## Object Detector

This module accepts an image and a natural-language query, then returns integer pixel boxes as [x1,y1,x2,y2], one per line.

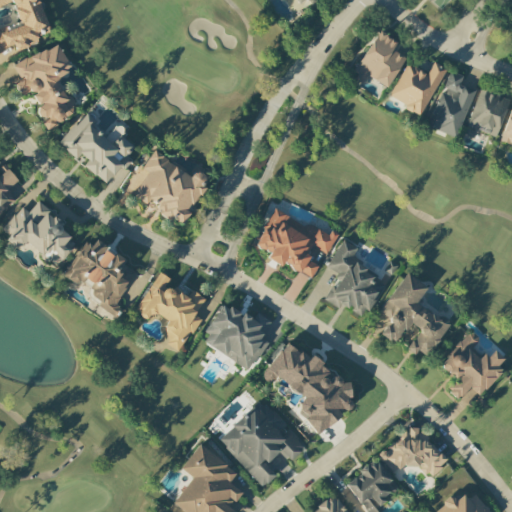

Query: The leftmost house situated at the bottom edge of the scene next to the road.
[175,445,244,512]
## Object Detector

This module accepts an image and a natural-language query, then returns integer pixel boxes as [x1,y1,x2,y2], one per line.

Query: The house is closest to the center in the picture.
[258,211,339,277]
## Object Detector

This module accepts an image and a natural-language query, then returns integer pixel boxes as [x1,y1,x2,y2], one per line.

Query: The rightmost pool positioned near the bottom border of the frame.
[406,474,426,490]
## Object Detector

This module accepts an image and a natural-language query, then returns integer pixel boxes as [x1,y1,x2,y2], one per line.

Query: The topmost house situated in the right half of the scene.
[362,32,407,86]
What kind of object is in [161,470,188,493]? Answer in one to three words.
swimming pool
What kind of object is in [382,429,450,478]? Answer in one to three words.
house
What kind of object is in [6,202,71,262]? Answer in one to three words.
house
